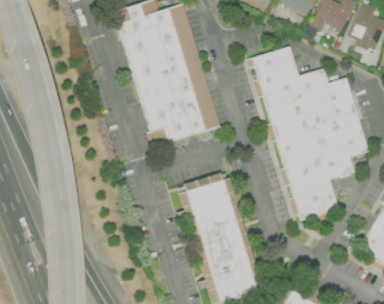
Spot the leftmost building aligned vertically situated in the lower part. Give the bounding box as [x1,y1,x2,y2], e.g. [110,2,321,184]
[180,174,258,304]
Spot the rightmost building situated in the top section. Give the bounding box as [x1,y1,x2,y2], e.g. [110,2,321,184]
[348,4,384,50]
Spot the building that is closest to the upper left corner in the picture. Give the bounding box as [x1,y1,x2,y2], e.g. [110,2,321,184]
[119,0,220,142]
